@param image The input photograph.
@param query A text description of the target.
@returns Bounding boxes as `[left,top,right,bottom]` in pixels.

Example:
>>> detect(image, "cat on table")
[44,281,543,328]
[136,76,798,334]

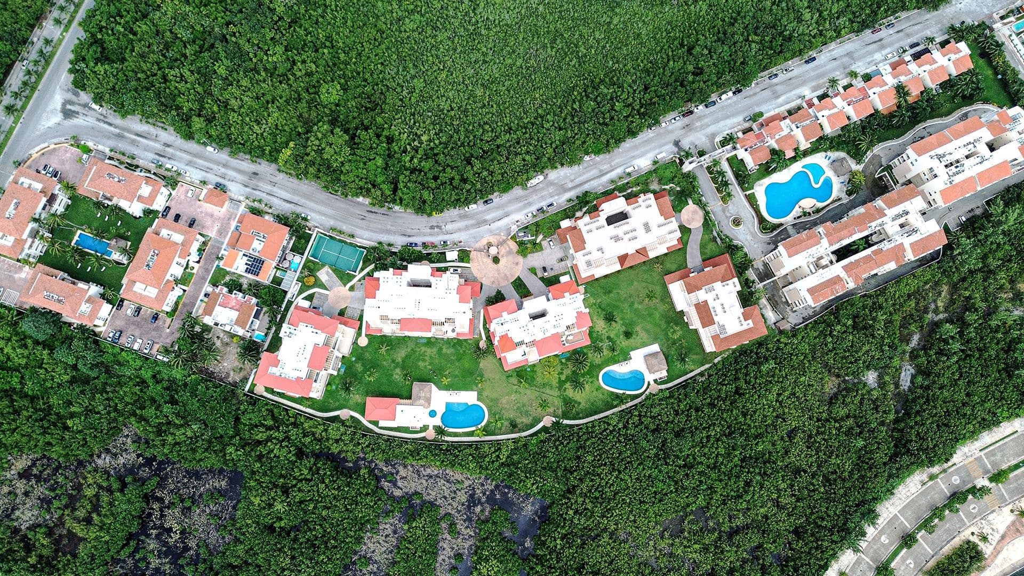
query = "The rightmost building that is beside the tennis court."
[365,265,481,339]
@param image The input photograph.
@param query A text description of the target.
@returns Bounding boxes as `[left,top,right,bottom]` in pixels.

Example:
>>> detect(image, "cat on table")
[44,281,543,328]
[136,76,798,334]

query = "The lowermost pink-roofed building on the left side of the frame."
[364,396,424,421]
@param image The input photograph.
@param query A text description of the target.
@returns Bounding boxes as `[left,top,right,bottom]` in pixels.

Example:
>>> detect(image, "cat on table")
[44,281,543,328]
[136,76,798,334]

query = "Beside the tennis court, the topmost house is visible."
[223,214,291,263]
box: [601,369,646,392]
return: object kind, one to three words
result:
swimming pool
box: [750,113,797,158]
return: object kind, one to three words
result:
house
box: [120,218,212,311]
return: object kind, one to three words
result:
building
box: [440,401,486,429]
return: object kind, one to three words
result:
swimming pool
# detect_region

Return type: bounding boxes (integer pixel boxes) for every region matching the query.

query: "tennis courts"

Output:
[308,233,368,275]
